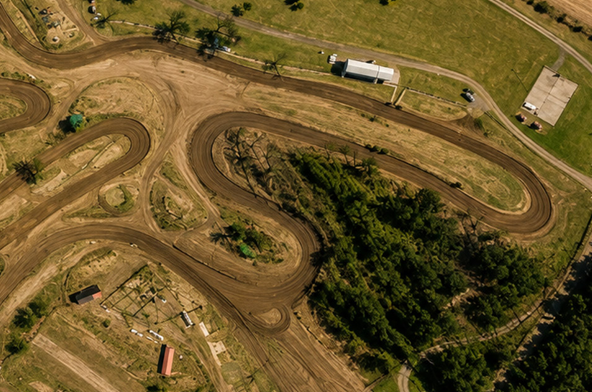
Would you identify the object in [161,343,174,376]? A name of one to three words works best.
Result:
barn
